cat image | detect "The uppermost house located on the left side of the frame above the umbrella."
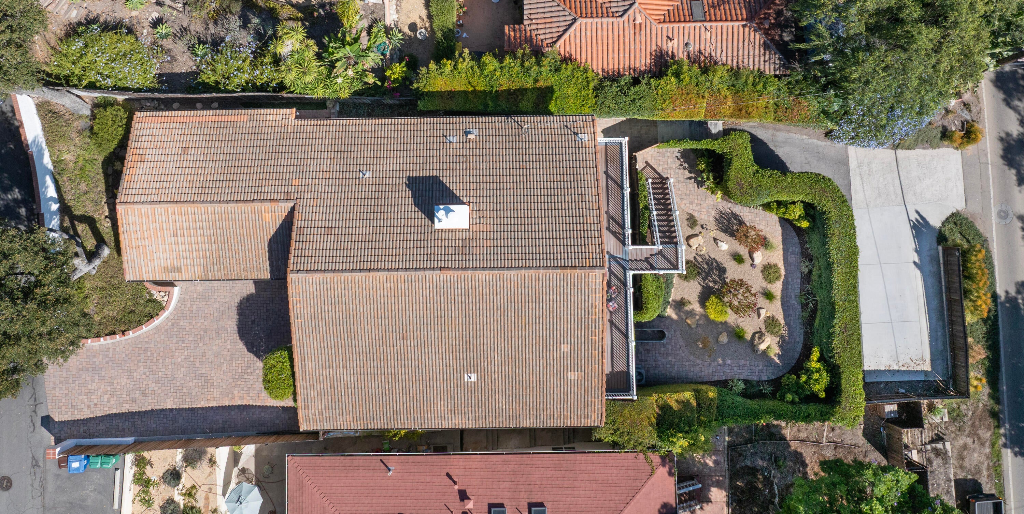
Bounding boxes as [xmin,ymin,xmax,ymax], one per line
[113,106,609,435]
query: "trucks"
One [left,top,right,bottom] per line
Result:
[957,489,1005,514]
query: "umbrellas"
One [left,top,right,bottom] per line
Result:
[222,476,268,514]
